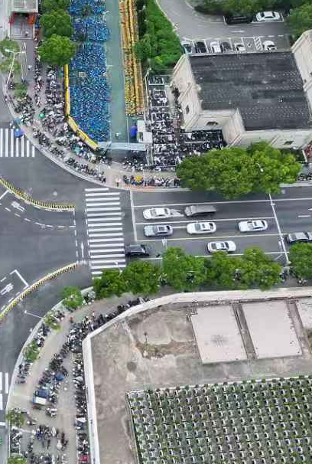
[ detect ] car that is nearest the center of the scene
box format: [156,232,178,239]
[142,224,174,238]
